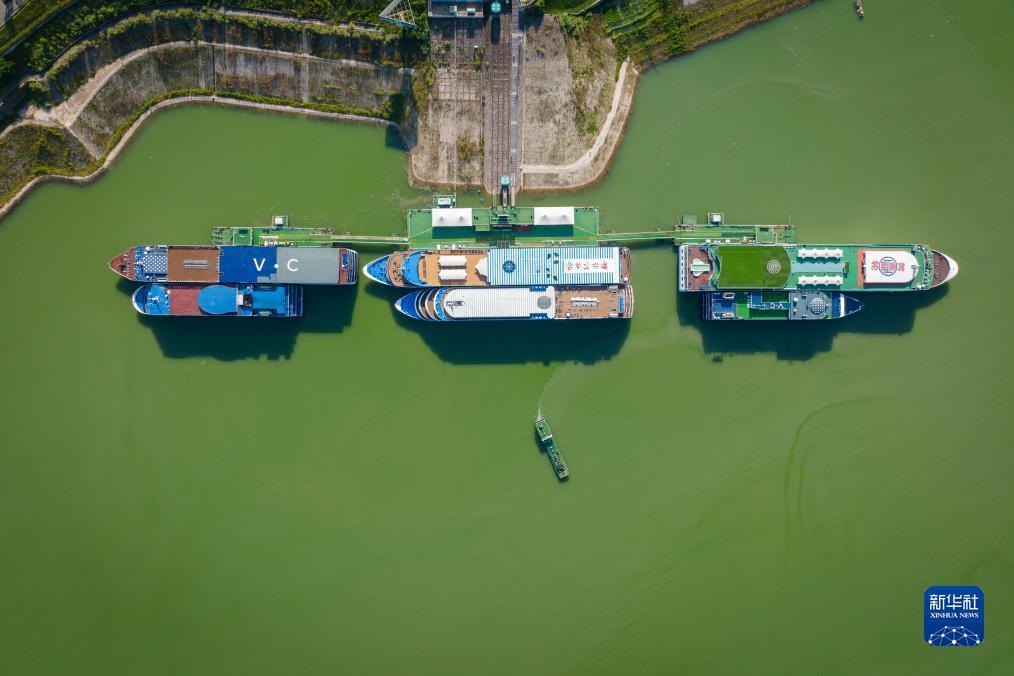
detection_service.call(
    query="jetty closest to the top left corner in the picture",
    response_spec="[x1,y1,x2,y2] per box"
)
[212,227,334,245]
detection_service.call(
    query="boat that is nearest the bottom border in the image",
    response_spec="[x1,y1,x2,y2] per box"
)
[535,418,567,478]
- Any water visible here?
Yes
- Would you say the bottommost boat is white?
No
